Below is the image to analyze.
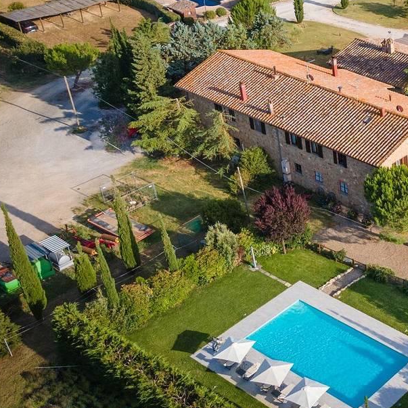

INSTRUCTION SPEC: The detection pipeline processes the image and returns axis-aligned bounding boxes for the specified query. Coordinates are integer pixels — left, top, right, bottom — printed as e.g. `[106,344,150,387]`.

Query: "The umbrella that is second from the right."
[249,357,295,390]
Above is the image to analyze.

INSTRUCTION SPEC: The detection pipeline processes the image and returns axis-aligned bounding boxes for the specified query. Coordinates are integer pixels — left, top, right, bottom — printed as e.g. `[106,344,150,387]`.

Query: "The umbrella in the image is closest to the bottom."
[284,377,333,408]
